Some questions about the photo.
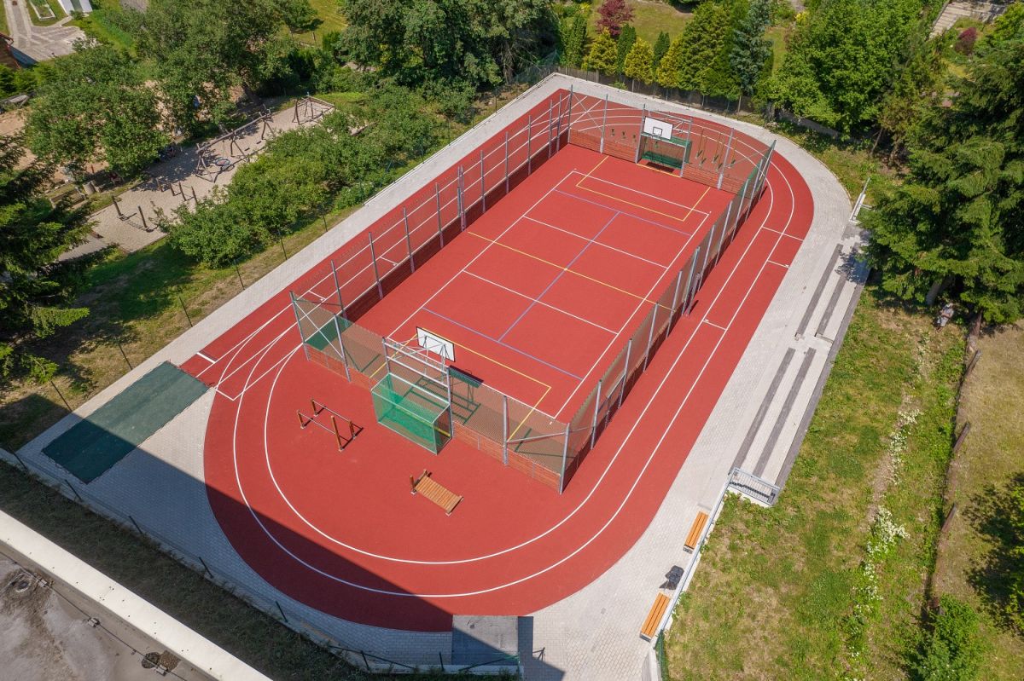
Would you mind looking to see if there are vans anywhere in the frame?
No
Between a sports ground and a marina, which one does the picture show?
sports ground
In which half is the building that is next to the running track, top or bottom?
bottom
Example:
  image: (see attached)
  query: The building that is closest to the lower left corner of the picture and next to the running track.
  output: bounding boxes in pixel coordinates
[0,512,269,681]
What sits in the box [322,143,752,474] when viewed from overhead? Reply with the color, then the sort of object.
red sports court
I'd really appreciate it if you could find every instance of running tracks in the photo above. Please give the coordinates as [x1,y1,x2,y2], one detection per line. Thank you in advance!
[181,89,814,628]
